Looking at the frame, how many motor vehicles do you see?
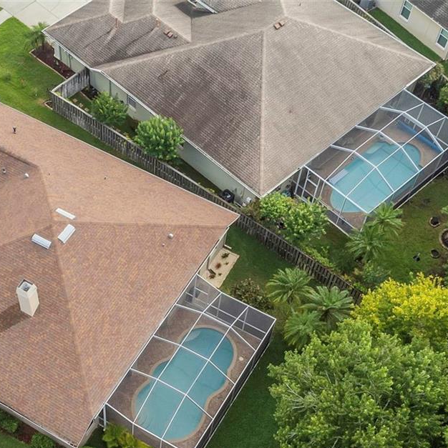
zero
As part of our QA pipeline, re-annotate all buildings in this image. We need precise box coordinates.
[41,0,436,204]
[0,103,239,448]
[373,0,448,58]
